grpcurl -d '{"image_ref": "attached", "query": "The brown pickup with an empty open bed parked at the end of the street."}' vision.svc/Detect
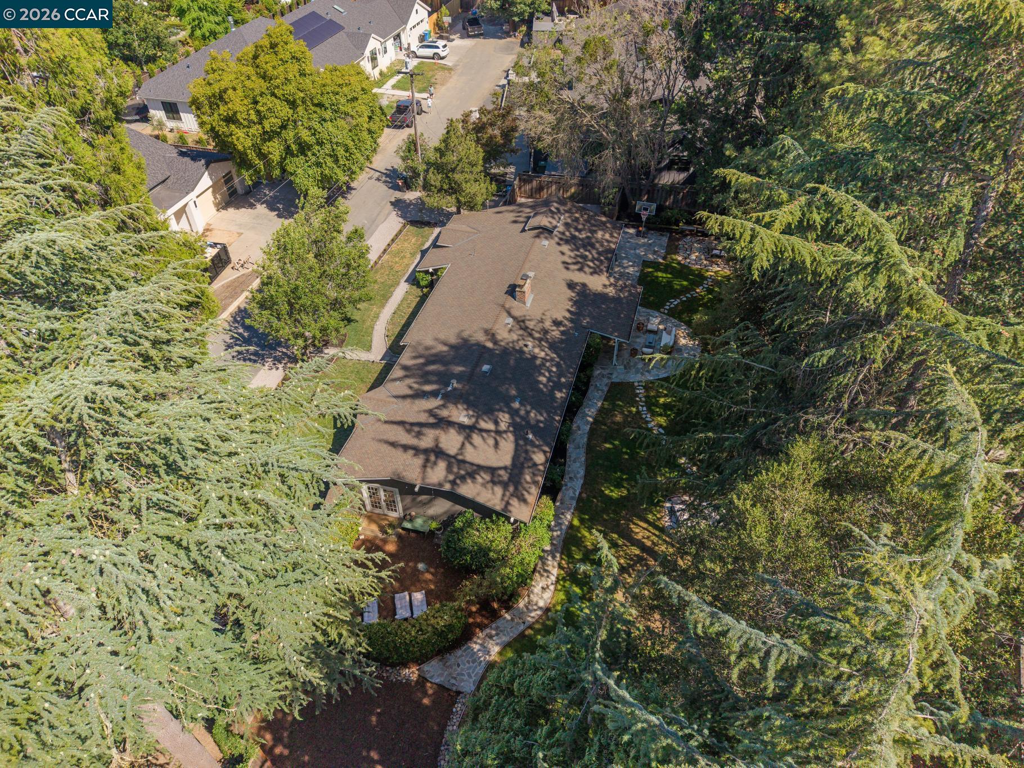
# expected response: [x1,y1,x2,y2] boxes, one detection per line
[463,11,484,32]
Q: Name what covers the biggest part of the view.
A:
trees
